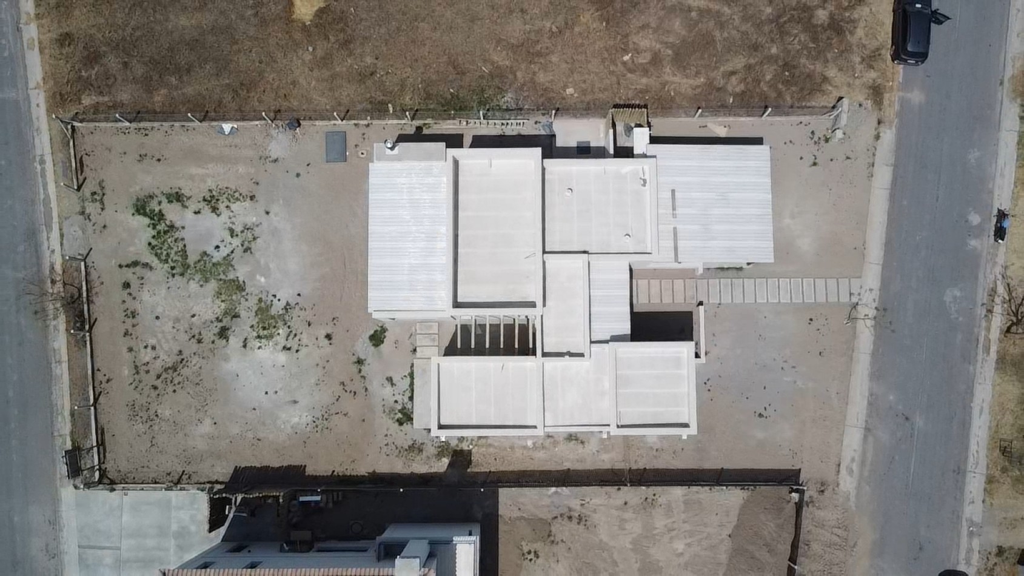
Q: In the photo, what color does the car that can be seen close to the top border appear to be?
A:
black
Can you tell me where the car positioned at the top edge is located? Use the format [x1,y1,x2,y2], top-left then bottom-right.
[890,0,947,63]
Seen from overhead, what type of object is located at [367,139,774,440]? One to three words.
house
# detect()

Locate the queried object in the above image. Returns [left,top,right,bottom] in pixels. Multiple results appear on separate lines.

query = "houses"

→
[170,521,481,576]
[367,139,774,440]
